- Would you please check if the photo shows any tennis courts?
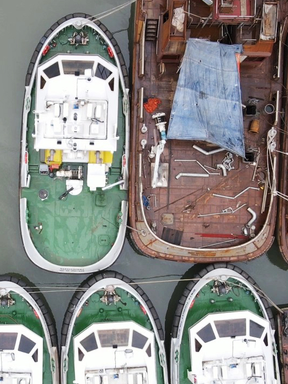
No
